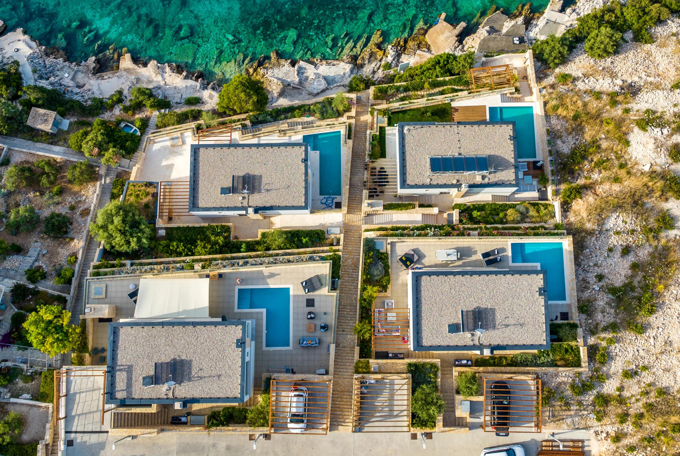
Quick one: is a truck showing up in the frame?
No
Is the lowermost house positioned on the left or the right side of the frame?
left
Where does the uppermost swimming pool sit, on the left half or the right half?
right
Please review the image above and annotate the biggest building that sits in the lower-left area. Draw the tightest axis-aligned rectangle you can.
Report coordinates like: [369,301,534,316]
[106,318,259,410]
